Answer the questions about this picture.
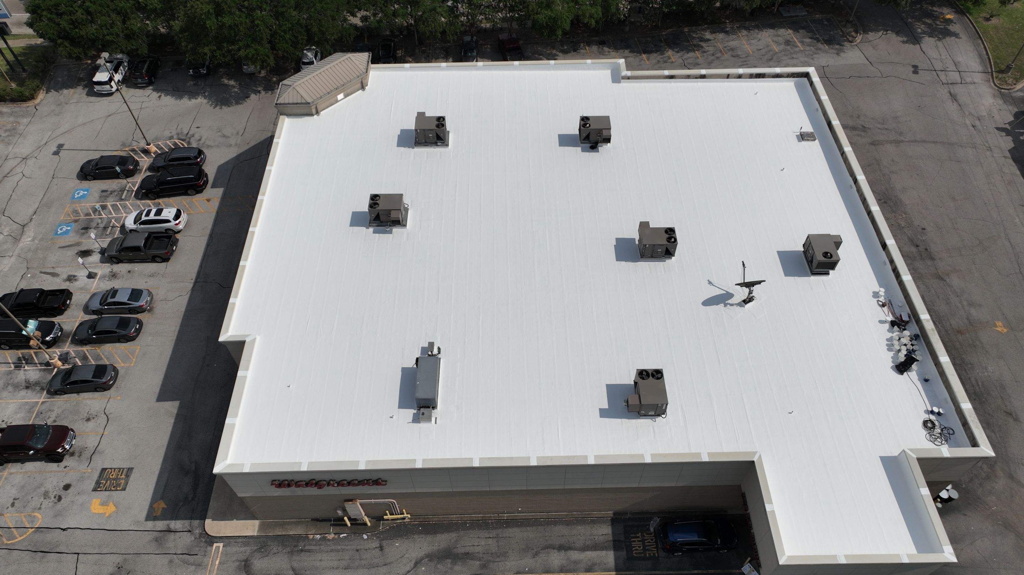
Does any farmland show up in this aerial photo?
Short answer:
No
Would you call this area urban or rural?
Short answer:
urban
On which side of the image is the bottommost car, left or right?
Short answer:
right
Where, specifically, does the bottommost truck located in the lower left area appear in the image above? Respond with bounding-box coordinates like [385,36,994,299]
[0,424,80,464]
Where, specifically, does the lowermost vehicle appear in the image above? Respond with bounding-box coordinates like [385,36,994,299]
[658,513,739,555]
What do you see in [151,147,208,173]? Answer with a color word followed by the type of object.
black car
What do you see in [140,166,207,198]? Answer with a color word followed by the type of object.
black car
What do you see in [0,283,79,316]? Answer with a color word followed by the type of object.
black truck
